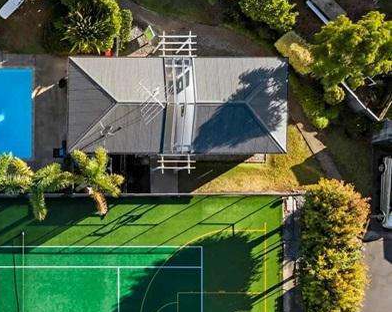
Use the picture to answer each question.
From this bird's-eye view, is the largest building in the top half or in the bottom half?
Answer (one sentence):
It is in the top half that the largest building appears.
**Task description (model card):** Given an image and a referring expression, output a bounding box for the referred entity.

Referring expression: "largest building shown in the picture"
[64,55,288,163]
